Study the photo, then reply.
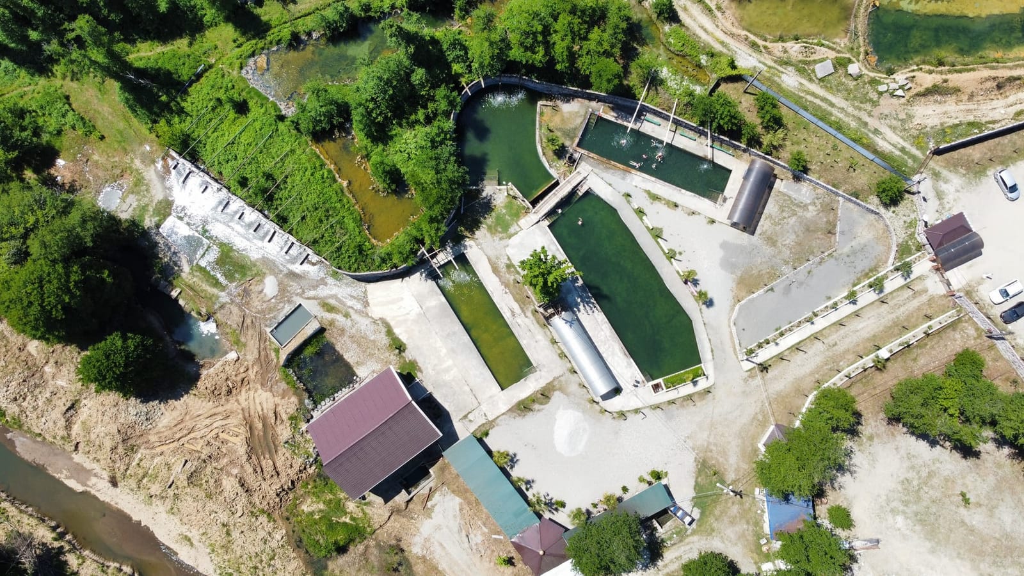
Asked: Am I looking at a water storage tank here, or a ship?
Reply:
water storage tank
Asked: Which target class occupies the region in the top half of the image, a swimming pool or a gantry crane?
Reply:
swimming pool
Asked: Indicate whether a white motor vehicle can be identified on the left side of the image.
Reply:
No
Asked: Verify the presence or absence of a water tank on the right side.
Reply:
No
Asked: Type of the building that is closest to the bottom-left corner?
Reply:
house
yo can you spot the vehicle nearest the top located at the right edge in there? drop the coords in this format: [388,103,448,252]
[994,170,1018,200]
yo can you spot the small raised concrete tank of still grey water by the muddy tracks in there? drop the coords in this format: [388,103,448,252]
[266,301,322,367]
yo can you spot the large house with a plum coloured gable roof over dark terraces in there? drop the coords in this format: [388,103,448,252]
[307,367,444,499]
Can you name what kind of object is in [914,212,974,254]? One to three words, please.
house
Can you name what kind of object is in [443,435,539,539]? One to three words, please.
shed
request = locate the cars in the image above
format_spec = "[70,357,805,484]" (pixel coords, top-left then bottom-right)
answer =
[998,302,1024,324]
[988,281,1023,304]
[994,170,1018,200]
